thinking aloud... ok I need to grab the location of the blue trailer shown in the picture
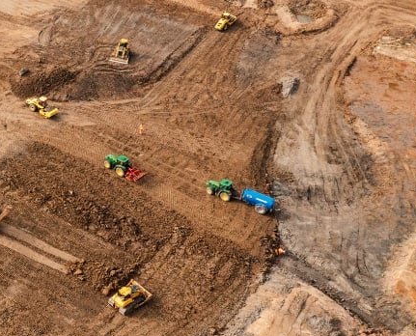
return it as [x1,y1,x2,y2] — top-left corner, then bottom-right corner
[234,186,281,212]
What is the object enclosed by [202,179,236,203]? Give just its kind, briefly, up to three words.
work vehicle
